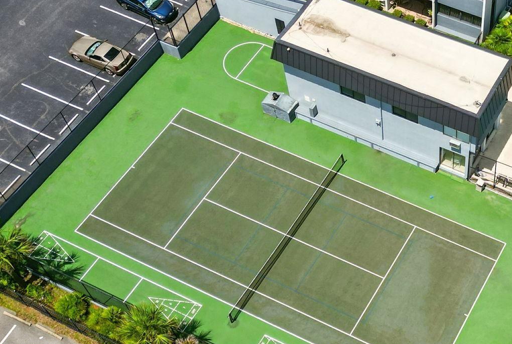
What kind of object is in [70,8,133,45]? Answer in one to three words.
car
